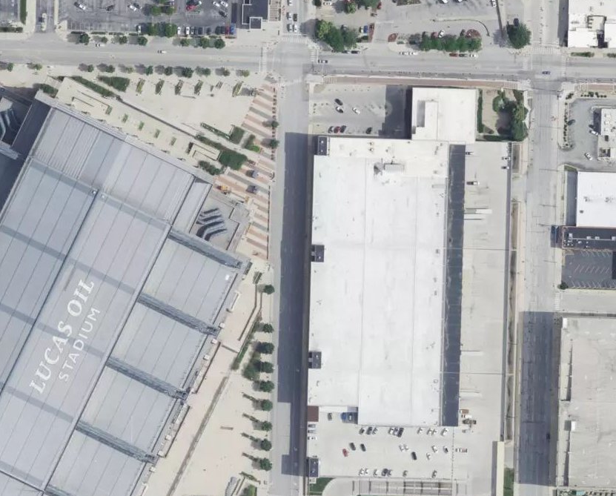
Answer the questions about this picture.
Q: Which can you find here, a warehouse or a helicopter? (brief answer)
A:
warehouse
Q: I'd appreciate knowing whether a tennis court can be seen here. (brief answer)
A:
No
